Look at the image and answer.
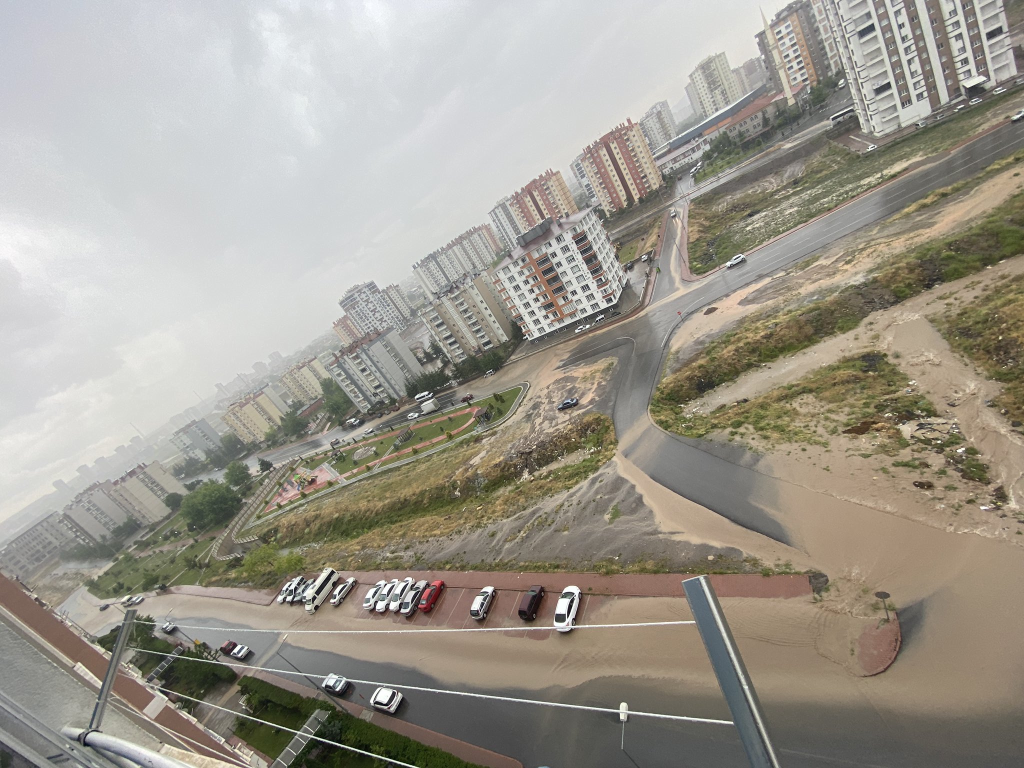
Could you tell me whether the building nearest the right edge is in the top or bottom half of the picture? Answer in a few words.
top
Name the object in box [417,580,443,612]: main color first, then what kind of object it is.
red car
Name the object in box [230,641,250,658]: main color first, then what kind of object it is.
white car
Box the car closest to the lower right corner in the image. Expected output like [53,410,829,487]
[554,585,581,632]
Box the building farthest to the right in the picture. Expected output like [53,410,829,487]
[841,0,1019,136]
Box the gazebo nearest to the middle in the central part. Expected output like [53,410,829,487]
[467,404,496,428]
